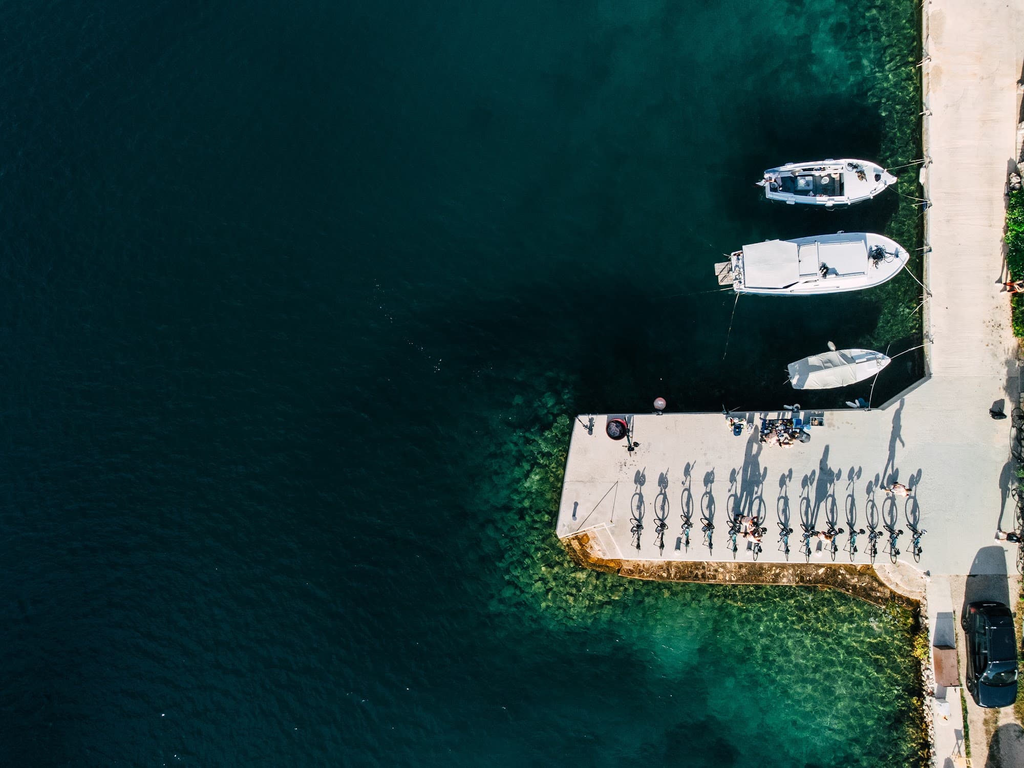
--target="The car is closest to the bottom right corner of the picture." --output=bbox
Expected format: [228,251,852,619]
[959,599,1022,708]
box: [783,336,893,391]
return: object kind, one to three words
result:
boat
